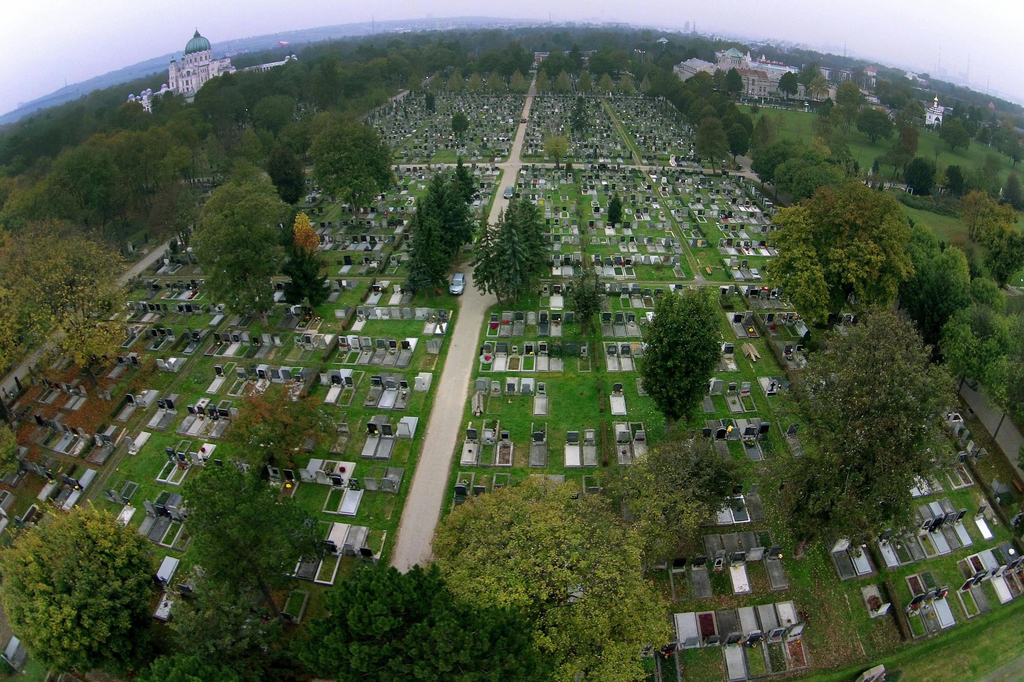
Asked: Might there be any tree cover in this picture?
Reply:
Yes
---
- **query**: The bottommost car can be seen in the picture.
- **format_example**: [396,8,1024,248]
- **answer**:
[448,267,467,291]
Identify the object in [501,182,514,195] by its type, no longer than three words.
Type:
vehicle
